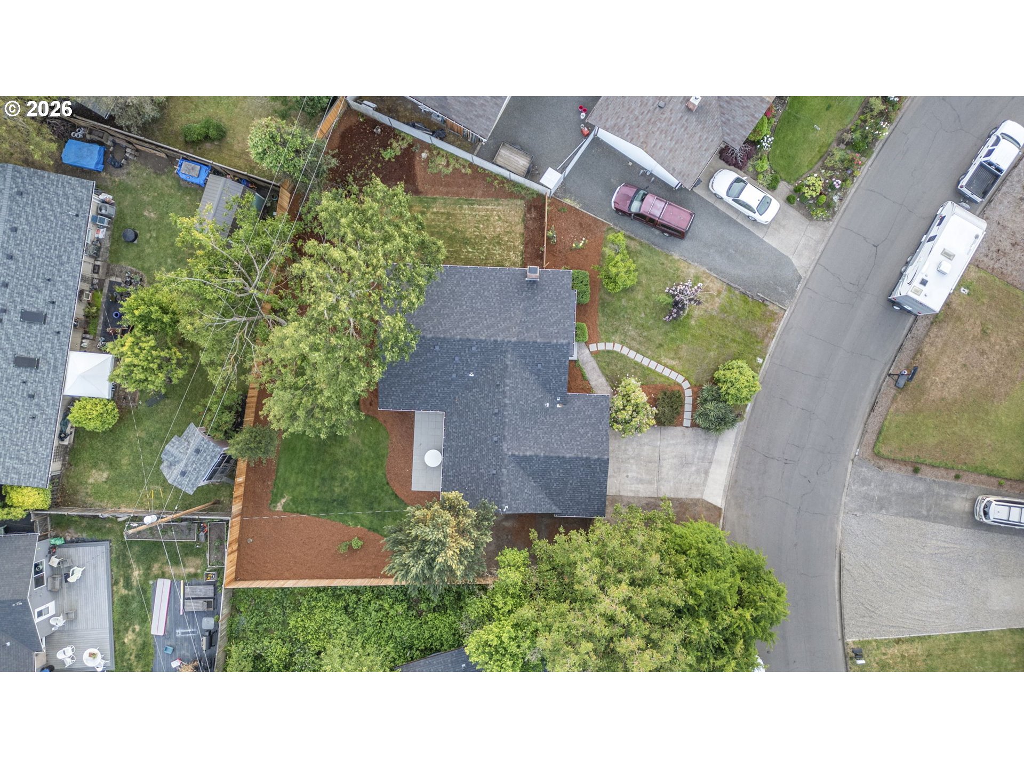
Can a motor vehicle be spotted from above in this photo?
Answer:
Yes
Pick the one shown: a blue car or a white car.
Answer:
white car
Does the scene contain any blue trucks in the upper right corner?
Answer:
No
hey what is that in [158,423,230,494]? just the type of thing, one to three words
shed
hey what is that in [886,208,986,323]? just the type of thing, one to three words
vehicle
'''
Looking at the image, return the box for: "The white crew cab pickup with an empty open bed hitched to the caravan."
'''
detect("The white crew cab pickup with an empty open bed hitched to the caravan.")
[953,107,1024,209]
